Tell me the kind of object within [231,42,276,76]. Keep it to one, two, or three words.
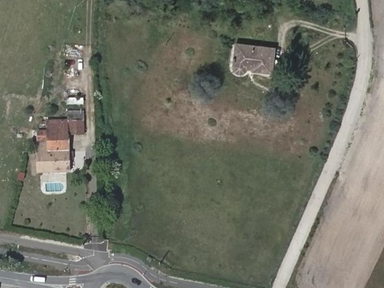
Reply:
house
